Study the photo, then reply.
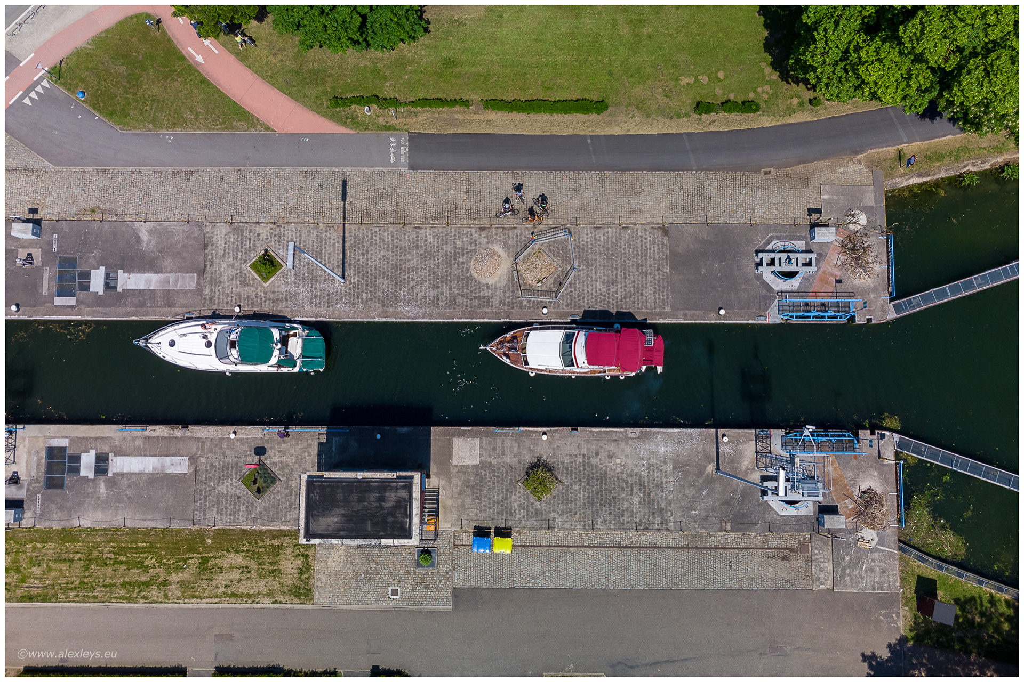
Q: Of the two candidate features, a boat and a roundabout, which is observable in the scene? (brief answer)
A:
boat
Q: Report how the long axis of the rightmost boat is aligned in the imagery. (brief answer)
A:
from left to right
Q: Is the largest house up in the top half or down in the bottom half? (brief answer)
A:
bottom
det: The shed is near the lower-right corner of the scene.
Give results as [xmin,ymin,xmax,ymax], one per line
[917,594,956,626]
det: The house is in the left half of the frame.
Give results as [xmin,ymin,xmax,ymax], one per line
[297,467,426,545]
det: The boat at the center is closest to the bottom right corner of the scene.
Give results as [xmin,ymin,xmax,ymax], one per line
[480,321,664,380]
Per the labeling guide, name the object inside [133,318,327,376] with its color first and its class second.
white boat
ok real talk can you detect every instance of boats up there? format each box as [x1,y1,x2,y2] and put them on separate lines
[133,318,327,376]
[480,321,664,380]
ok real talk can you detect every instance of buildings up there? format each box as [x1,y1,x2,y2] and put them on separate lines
[917,594,956,626]
[297,467,426,545]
